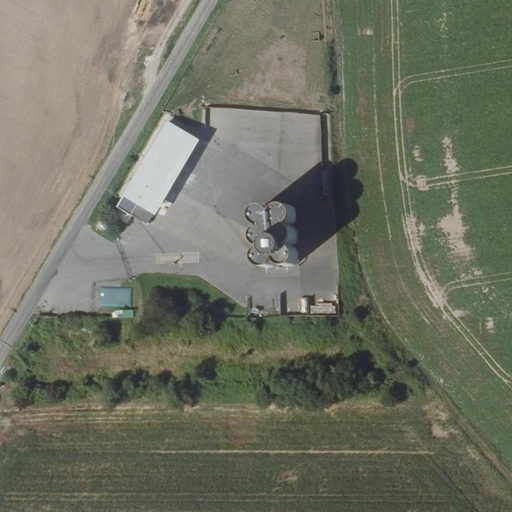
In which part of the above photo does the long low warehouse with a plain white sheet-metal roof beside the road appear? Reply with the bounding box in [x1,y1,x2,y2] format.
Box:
[117,121,200,224]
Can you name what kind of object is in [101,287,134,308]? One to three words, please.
water tank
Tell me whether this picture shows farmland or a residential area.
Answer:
farmland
